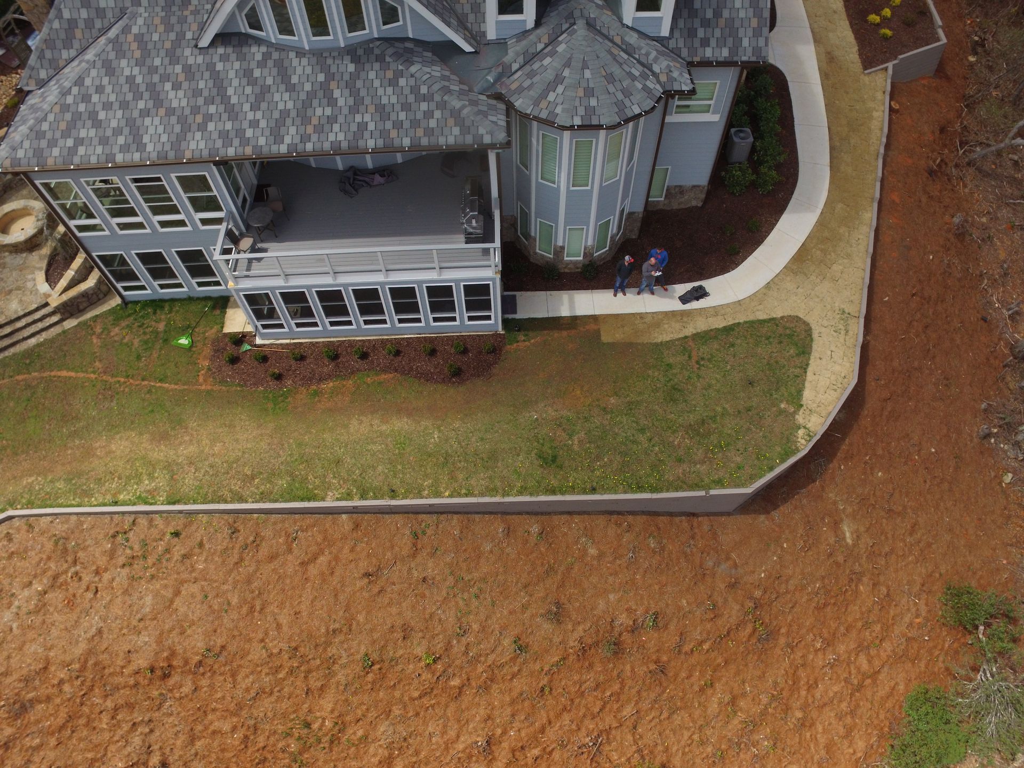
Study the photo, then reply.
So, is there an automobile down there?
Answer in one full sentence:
No, I find no automobile anywhere in the image.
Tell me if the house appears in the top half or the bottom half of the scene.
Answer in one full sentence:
The house is in the top half of the image.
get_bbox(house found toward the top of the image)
[0,0,773,343]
